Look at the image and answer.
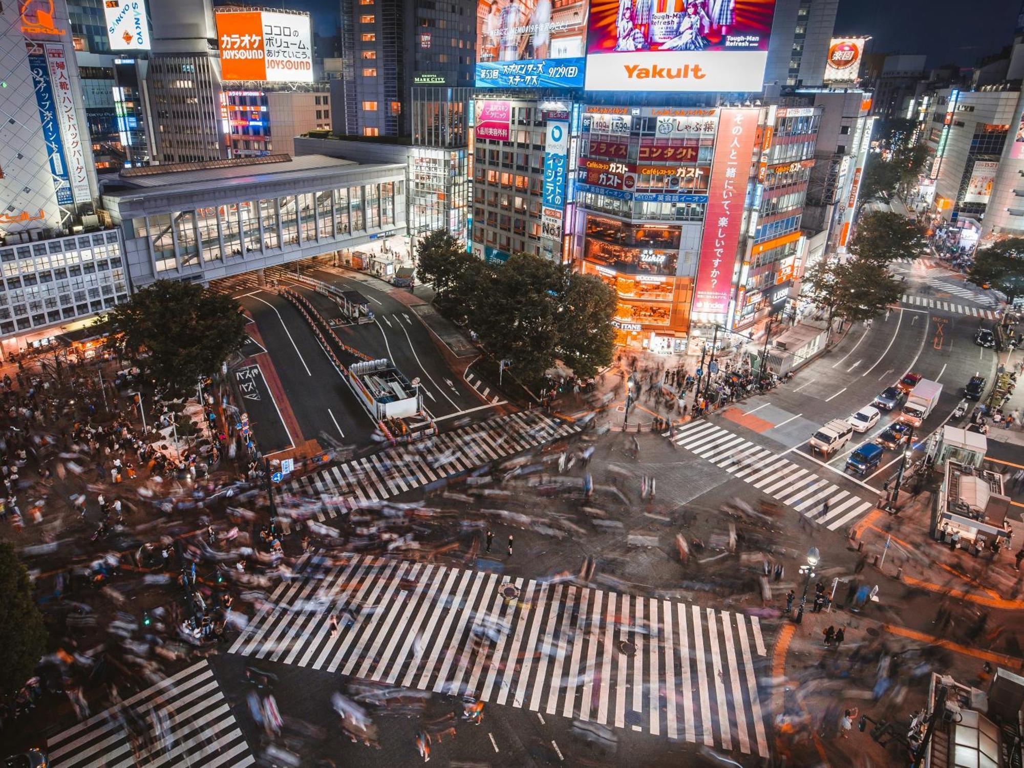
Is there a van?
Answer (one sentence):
Yes, the image includes a van.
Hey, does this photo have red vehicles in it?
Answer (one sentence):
Yes, a red vehicle is visible in the scene.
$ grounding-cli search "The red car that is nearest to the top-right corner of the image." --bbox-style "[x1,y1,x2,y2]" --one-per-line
[899,371,925,391]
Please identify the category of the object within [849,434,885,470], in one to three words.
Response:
van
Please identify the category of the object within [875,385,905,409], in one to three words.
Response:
car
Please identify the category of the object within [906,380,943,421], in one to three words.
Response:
truck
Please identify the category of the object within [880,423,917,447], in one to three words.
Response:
car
